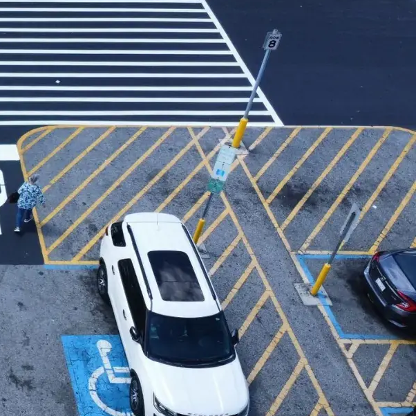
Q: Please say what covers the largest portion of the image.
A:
paved ground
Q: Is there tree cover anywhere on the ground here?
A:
No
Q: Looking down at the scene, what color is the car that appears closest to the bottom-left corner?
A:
white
